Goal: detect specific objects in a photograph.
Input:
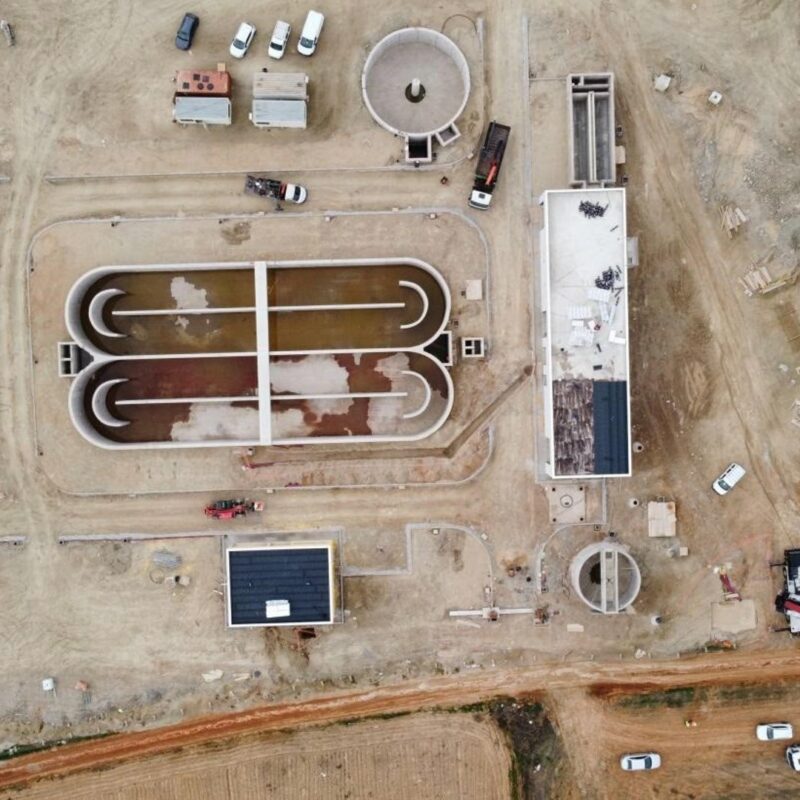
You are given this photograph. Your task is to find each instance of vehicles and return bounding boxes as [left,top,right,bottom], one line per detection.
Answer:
[762,548,800,639]
[709,459,748,496]
[753,720,792,741]
[269,20,291,62]
[620,749,660,771]
[228,20,257,61]
[176,12,200,54]
[203,498,250,520]
[467,119,511,212]
[242,177,308,205]
[298,7,324,59]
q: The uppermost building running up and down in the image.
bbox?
[535,188,639,477]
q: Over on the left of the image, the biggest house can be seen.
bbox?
[227,534,338,628]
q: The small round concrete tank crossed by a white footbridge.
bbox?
[570,541,641,616]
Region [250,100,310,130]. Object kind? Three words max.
building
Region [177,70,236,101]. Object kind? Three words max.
building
